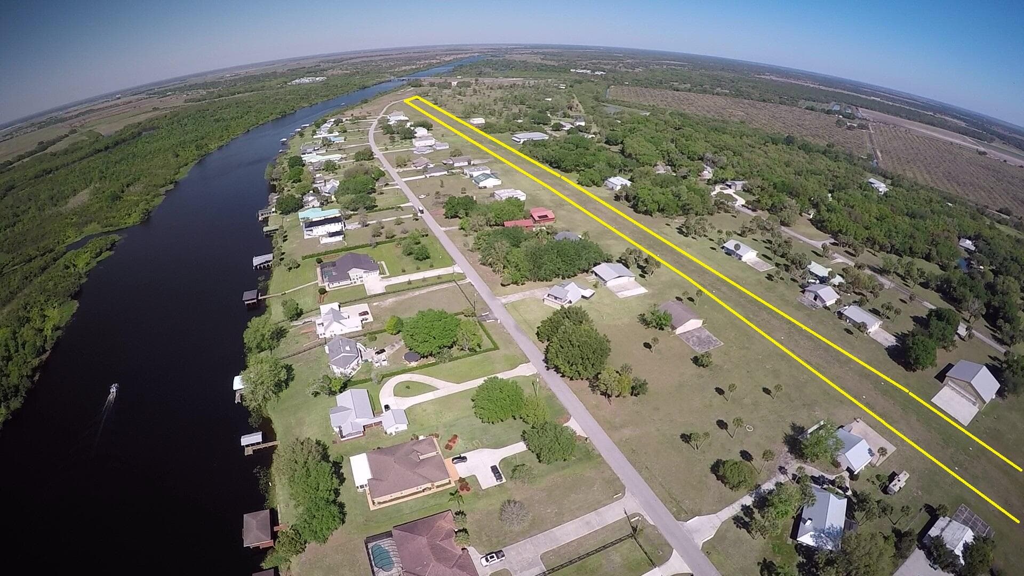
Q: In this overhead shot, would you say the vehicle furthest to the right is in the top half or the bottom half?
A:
bottom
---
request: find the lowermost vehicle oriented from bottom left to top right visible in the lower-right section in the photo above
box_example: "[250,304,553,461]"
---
[888,471,908,497]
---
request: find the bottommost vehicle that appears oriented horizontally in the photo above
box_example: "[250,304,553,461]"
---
[479,550,507,565]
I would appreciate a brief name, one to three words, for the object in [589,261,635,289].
hangar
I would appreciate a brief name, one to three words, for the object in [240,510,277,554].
building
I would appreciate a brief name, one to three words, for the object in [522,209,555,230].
barn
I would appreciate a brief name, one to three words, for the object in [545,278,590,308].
house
